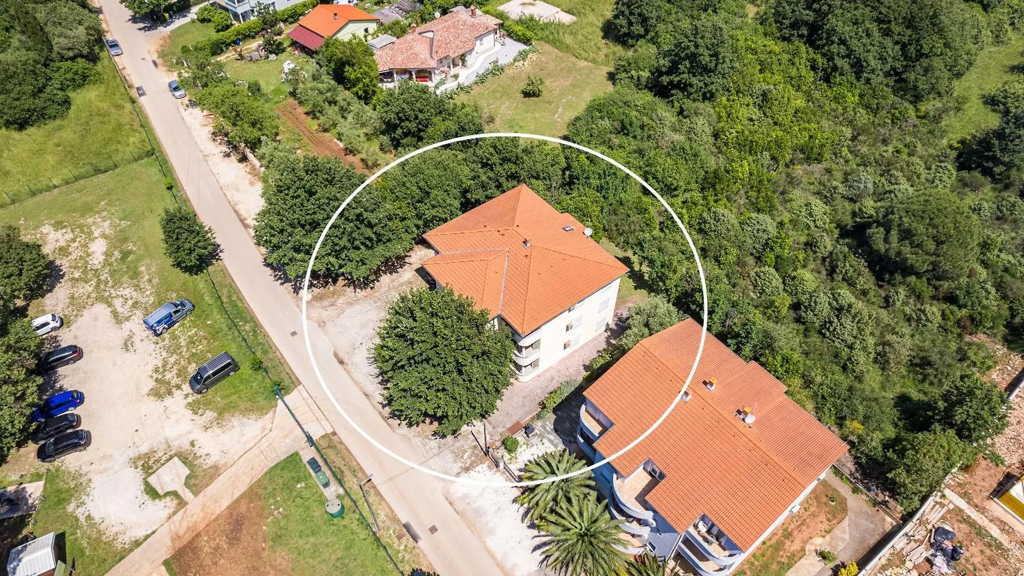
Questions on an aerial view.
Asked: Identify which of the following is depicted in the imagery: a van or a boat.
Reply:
van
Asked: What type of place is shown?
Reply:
residential area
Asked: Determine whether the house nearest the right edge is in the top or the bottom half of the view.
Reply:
bottom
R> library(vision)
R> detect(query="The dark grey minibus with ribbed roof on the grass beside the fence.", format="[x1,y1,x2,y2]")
[188,348,240,395]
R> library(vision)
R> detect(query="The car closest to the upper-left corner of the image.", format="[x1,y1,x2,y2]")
[105,37,124,57]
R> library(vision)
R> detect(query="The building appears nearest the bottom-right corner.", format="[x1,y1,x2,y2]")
[573,316,850,576]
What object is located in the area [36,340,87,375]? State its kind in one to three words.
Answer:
car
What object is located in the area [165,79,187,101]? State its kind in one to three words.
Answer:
car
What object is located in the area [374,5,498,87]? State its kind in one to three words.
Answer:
house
